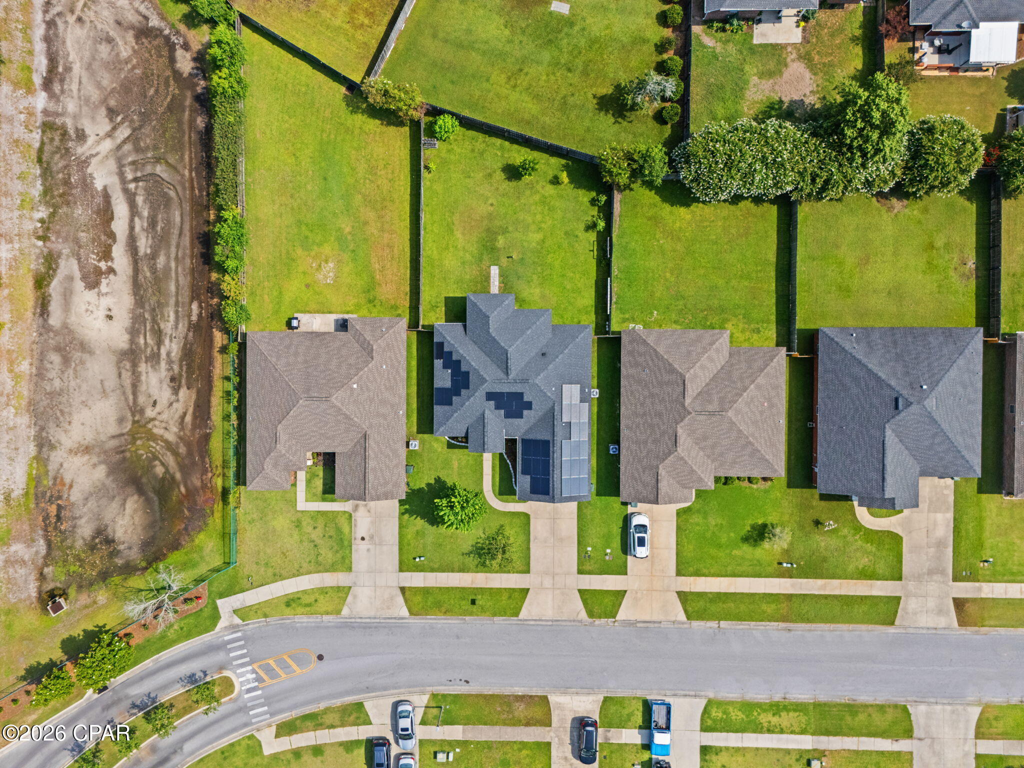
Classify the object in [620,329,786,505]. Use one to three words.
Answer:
house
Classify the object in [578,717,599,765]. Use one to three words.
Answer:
car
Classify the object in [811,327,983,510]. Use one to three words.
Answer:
house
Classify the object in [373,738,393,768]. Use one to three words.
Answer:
car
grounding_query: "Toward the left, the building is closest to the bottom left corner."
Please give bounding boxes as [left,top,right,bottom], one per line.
[246,317,407,501]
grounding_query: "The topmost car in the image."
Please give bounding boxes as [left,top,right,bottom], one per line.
[630,513,651,558]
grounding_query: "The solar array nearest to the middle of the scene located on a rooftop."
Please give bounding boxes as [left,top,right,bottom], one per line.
[486,392,532,419]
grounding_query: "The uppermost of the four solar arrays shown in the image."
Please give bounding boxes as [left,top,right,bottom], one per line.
[434,342,469,405]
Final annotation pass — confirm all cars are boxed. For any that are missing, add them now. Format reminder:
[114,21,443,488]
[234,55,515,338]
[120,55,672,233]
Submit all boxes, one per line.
[398,755,417,768]
[630,513,651,558]
[373,738,393,768]
[396,700,417,750]
[578,717,599,765]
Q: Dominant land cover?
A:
grass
